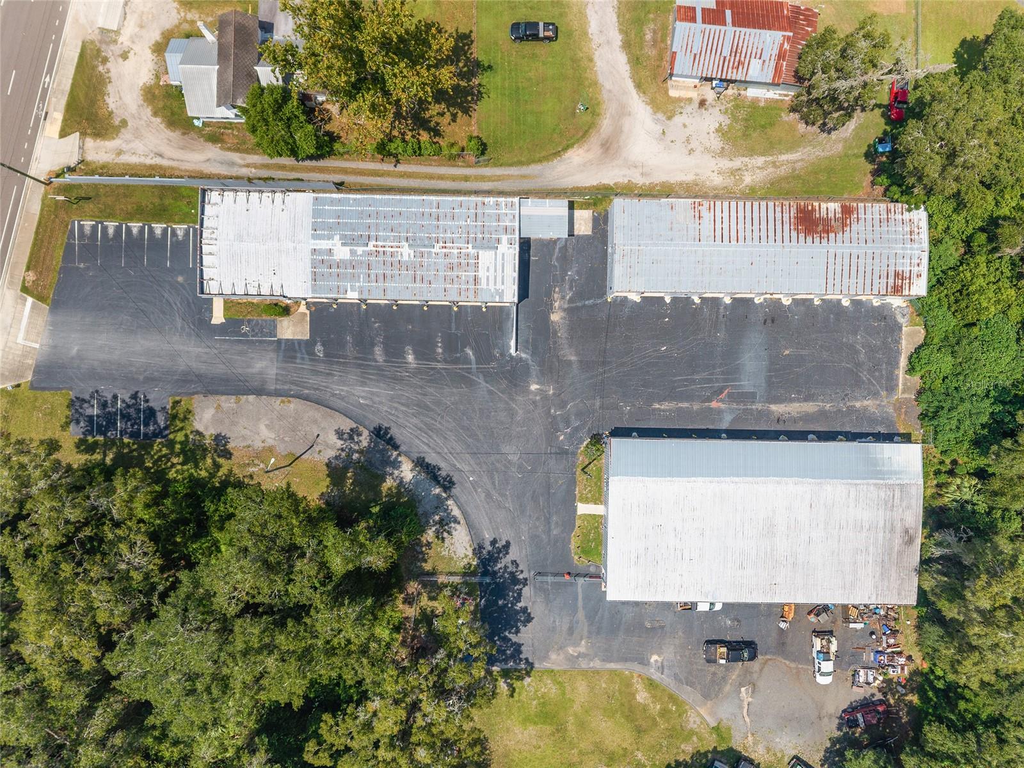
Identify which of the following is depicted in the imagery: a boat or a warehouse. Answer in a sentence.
I can see a warehouse in this picture.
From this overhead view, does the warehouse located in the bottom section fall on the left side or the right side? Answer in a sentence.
The warehouse located in the bottom section appears in the right half of the scene.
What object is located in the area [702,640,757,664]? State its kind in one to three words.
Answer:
truck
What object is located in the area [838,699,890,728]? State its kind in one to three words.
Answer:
truck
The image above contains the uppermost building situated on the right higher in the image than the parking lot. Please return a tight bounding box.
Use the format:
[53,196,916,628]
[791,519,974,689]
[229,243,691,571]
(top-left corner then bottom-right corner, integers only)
[666,0,820,96]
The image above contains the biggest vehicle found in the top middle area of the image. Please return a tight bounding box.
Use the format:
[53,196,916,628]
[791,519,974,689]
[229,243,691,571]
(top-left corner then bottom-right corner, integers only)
[509,20,558,45]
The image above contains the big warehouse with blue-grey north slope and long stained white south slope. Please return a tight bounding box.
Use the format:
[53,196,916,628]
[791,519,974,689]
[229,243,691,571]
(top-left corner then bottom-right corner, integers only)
[602,437,926,606]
